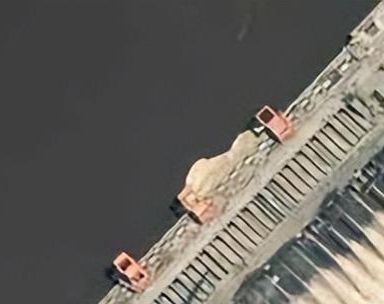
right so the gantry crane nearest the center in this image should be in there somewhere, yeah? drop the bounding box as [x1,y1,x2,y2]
[179,186,218,225]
